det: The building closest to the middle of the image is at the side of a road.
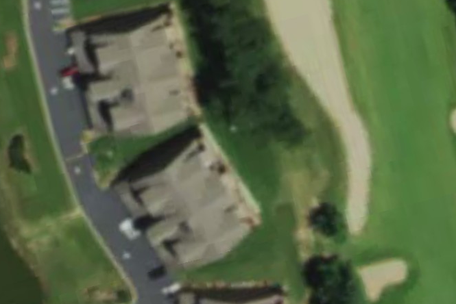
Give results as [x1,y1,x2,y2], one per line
[115,133,255,269]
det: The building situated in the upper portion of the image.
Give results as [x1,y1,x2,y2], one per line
[67,1,198,133]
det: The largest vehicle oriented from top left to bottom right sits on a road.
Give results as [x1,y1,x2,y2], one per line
[121,218,137,241]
